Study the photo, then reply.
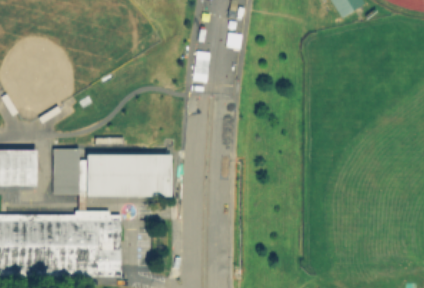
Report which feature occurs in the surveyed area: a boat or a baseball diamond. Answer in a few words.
baseball diamond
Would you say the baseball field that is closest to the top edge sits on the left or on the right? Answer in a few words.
left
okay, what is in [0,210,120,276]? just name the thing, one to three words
building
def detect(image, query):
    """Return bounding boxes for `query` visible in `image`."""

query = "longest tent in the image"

[193,50,210,83]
